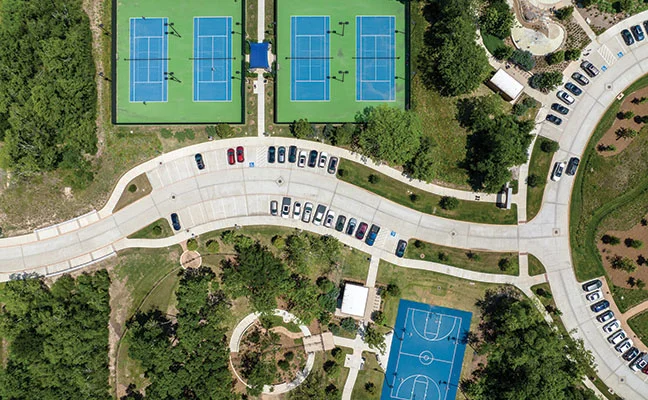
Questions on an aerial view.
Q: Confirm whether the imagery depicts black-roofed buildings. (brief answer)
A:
No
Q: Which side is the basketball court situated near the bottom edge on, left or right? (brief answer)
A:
right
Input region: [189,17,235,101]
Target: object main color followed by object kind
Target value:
blue tennis court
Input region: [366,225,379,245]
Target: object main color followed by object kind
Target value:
blue vehicle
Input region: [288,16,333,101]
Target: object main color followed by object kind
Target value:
blue tennis court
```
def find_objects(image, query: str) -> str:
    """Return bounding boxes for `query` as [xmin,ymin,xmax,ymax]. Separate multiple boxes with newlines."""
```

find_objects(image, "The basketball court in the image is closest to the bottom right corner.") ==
[382,297,473,400]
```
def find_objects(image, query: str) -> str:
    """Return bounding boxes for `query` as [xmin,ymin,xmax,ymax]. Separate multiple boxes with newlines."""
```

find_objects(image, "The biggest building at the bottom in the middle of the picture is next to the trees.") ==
[342,282,368,316]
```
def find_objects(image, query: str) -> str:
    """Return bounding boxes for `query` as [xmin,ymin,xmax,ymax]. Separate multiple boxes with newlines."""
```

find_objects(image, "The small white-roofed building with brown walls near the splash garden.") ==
[489,68,525,99]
